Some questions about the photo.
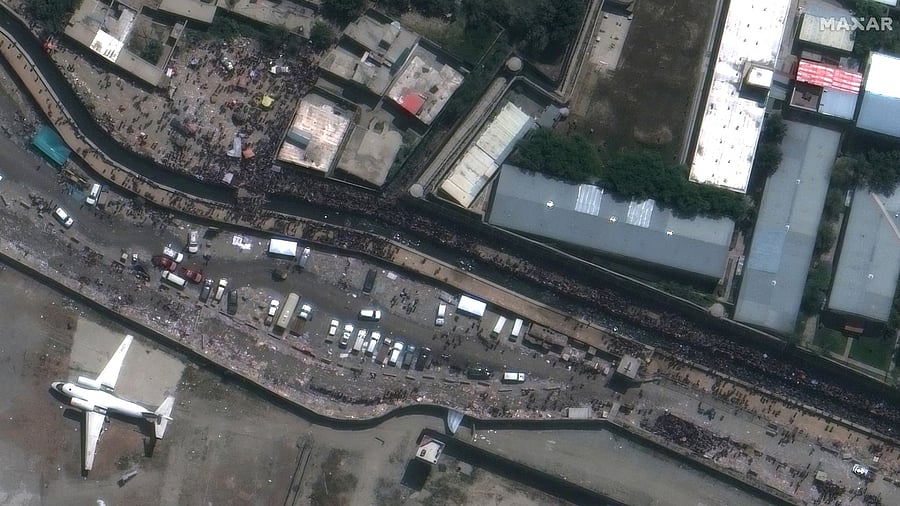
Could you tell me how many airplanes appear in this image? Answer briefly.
1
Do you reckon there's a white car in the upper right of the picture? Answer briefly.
No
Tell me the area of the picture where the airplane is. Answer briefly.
bottom left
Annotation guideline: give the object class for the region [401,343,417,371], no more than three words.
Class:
car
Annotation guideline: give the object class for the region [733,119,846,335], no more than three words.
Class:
building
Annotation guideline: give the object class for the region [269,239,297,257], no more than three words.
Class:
tent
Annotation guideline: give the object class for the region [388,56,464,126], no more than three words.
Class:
house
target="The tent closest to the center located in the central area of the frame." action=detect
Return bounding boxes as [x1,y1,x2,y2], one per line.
[457,294,488,318]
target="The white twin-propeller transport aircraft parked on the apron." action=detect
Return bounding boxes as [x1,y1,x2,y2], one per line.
[52,336,174,473]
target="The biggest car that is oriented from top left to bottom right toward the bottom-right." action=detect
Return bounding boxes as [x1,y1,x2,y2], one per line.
[850,461,875,480]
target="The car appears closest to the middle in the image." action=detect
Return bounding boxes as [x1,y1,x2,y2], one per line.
[435,302,447,327]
